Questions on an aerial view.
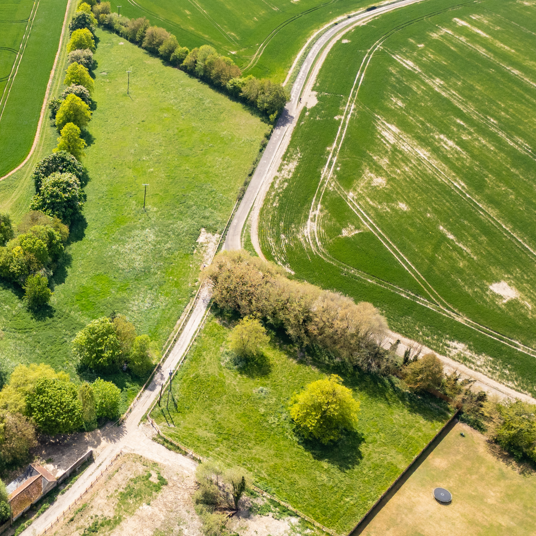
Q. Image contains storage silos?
No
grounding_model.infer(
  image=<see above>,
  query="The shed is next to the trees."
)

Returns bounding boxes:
[4,464,56,521]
